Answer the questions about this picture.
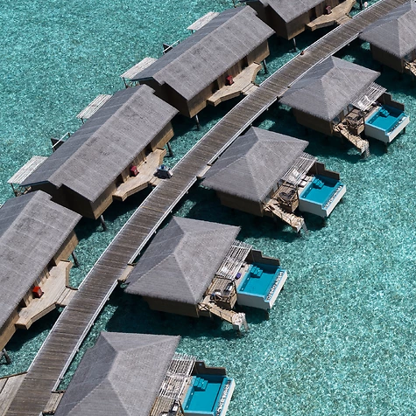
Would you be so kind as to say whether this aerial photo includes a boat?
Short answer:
No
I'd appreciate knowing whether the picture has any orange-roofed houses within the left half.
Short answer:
No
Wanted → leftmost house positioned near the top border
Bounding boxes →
[121,5,275,134]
